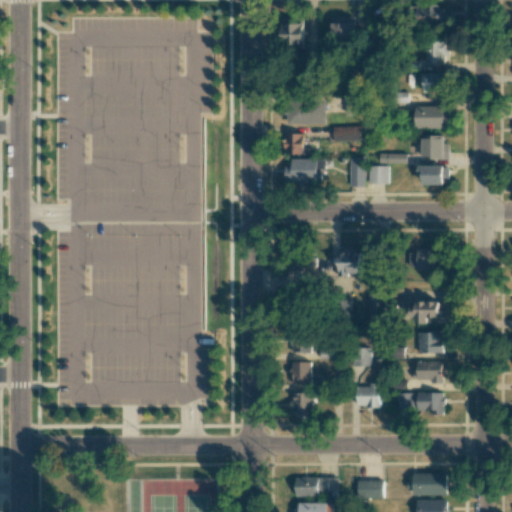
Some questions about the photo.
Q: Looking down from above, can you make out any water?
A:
No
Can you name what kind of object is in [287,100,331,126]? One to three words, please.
house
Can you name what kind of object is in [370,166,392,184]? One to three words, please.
building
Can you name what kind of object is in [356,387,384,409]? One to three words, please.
house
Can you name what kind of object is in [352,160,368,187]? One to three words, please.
building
